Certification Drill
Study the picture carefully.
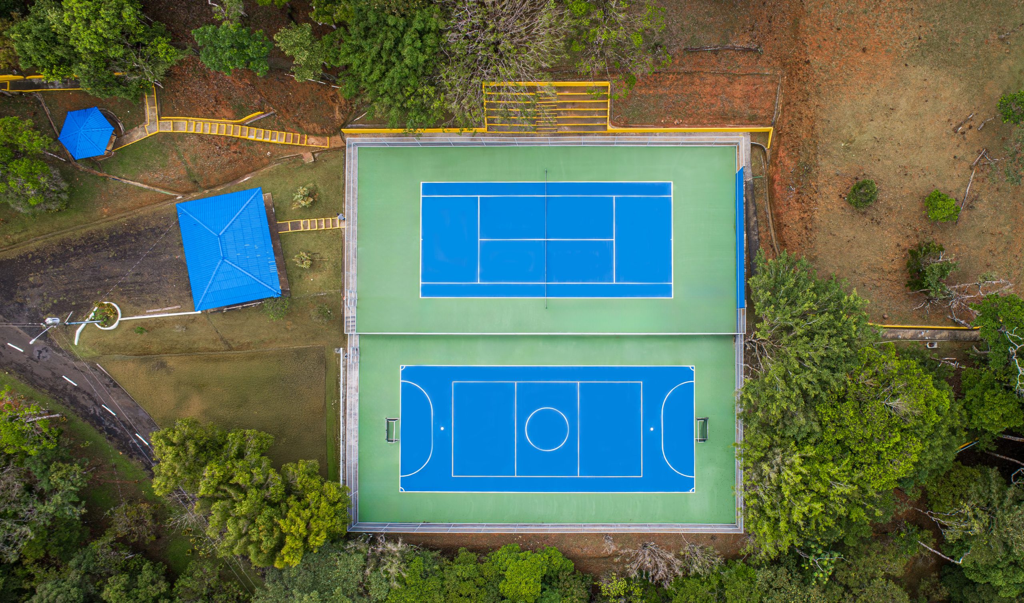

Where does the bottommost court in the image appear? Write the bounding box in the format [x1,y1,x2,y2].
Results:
[358,335,735,523]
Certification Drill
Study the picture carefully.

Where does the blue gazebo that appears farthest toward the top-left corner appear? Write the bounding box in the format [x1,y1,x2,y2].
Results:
[57,106,128,162]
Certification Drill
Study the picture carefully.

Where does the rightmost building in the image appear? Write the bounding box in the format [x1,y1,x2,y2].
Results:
[175,187,291,313]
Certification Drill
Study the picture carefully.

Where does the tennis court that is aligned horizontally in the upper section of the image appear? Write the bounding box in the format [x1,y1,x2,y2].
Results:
[357,146,737,333]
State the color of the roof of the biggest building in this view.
blue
